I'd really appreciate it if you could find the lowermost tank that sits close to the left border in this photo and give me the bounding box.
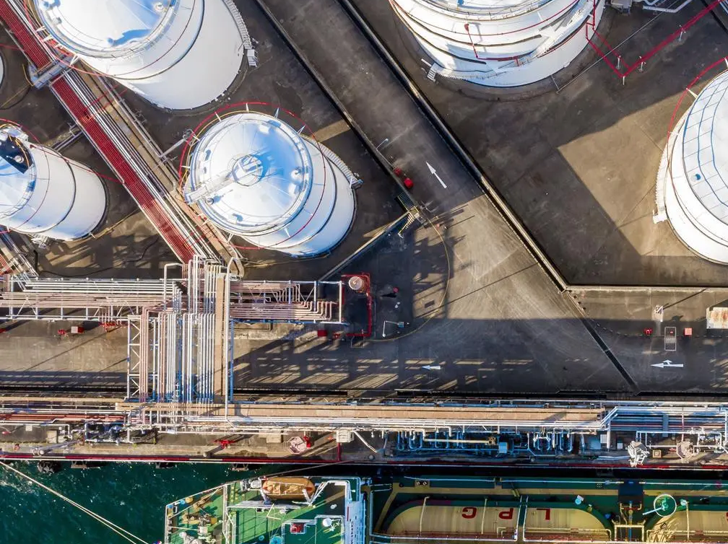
[0,108,113,246]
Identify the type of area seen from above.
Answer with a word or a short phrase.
industrial area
